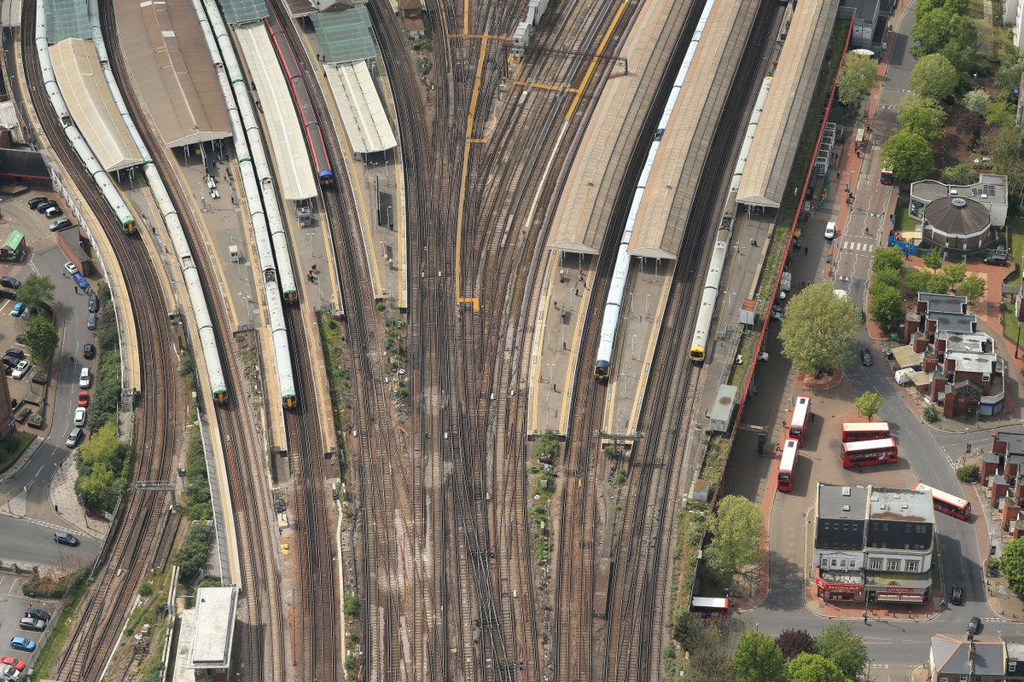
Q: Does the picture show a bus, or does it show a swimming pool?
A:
bus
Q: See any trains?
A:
Yes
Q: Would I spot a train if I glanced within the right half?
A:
Yes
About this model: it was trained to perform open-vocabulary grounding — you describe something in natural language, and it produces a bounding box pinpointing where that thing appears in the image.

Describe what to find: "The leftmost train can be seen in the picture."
[34,0,136,235]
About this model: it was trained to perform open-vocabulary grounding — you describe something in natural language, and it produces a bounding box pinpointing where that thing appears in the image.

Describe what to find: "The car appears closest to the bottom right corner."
[968,615,982,634]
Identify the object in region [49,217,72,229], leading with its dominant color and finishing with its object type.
gray vehicle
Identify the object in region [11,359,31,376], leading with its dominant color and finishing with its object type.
white car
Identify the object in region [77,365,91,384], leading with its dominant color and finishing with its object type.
white car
